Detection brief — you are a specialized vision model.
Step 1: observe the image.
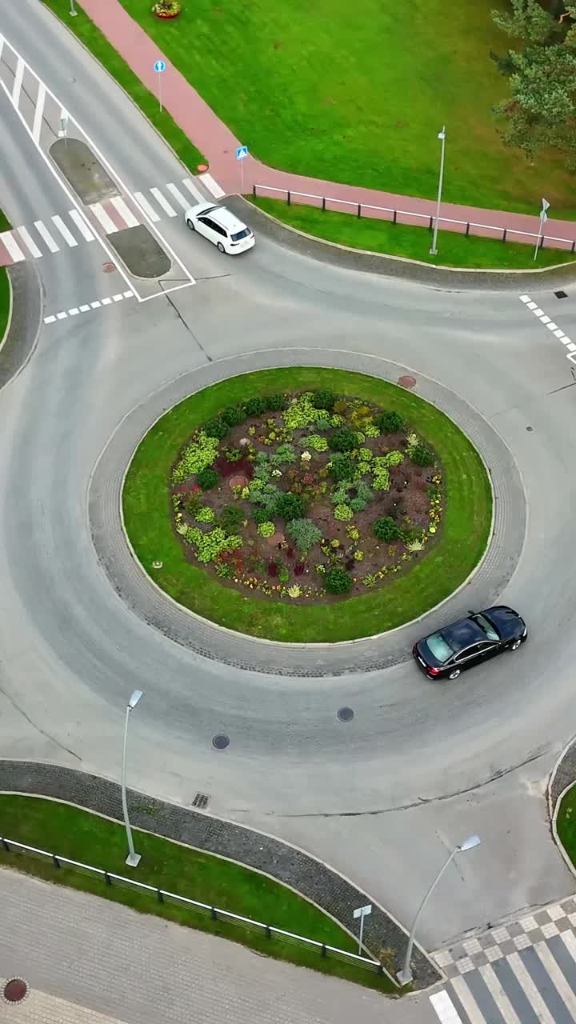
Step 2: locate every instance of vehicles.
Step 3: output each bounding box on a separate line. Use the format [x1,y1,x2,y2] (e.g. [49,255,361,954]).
[411,605,530,679]
[185,203,254,253]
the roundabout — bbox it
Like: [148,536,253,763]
[86,347,527,678]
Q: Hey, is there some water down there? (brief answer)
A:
No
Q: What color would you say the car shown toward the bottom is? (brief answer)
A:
black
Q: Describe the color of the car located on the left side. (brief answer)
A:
white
